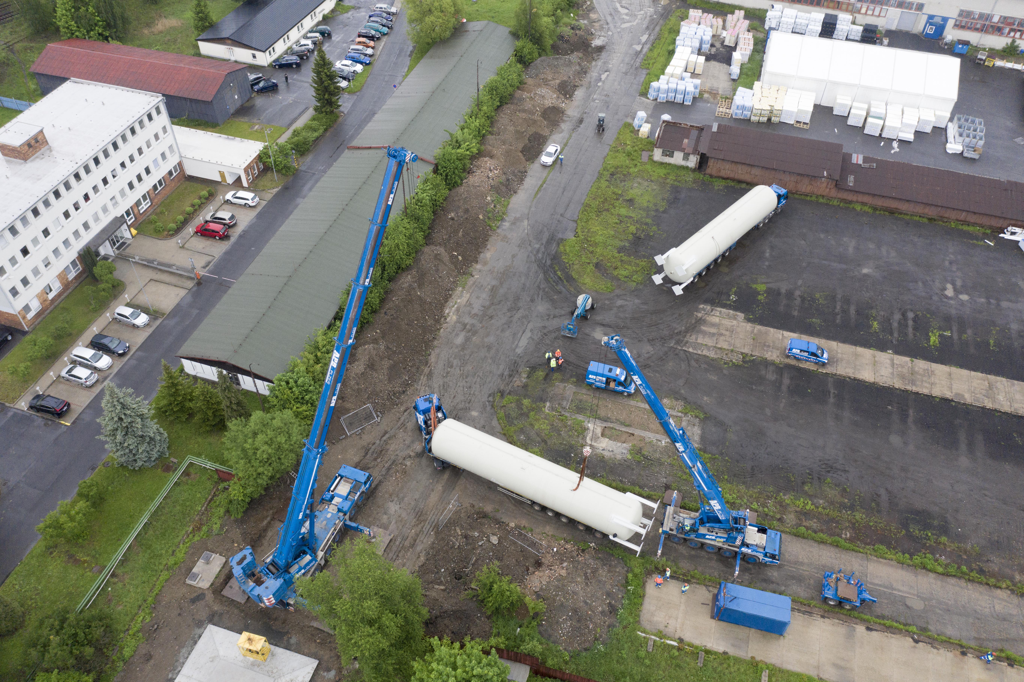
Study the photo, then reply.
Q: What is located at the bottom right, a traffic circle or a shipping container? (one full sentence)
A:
There is a shipping container at the bottom right.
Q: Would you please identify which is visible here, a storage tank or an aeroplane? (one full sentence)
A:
The one in the frame is a storage tank.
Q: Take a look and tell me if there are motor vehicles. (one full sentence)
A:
Yes, looking at the shot, I can spot a motor vehicle.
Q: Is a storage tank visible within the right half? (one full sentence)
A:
Yes, you'll find a storage tank within the right half.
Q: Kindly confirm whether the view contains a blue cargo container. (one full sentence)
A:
Yes, the image includes a blue cargo container.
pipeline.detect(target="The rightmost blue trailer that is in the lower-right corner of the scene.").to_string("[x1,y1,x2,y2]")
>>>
[822,571,879,609]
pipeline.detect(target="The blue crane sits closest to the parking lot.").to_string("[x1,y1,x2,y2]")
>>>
[234,146,450,618]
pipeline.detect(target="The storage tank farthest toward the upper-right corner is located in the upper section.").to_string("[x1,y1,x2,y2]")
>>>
[652,185,775,300]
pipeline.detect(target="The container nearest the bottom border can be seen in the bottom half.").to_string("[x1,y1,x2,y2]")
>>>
[714,580,793,637]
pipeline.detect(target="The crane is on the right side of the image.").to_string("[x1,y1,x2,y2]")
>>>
[583,331,783,584]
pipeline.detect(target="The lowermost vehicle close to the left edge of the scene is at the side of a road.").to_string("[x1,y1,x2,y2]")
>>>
[26,394,73,419]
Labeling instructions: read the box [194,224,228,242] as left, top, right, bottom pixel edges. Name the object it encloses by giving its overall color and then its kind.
red car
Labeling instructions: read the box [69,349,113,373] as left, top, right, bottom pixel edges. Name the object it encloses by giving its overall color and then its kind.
white car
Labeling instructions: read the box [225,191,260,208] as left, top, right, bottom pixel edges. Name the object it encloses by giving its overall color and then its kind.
white car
